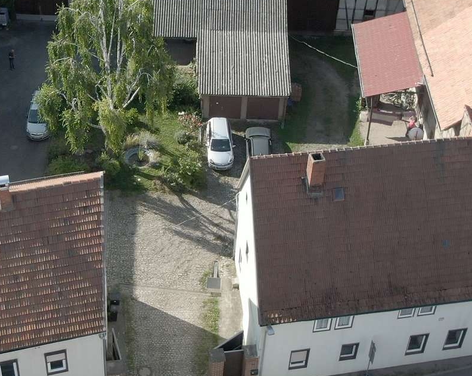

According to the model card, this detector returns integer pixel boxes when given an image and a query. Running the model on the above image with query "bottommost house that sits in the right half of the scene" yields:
[234,134,472,376]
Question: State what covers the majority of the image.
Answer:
buildings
